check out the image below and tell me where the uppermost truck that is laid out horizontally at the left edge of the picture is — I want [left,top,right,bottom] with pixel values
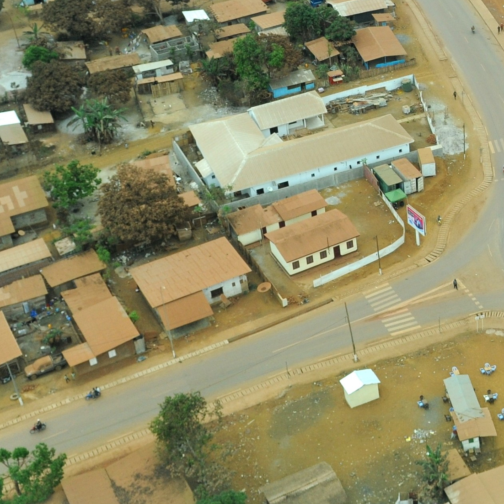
[24,355,67,378]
